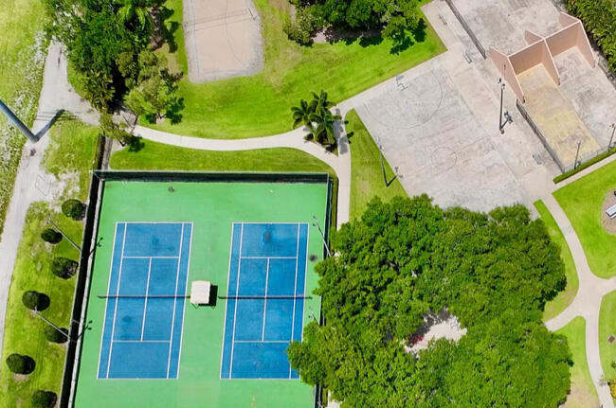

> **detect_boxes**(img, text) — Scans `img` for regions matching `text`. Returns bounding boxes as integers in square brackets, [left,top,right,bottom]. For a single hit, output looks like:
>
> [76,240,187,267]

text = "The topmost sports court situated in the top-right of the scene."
[433,0,564,78]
